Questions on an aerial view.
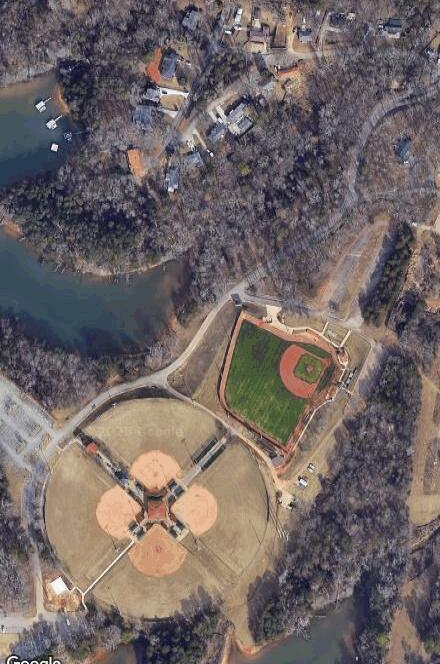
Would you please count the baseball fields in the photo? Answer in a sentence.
Altogether the scene contains 5 baseball fields.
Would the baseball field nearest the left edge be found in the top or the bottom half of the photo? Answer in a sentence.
Seen from above, the baseball field nearest the left edge lies in the bottom half of the view.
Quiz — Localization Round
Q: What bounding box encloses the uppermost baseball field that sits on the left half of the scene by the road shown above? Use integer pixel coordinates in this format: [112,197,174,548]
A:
[83,394,232,493]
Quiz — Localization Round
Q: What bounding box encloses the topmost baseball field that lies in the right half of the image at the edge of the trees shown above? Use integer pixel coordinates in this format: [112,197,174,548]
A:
[218,311,342,451]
